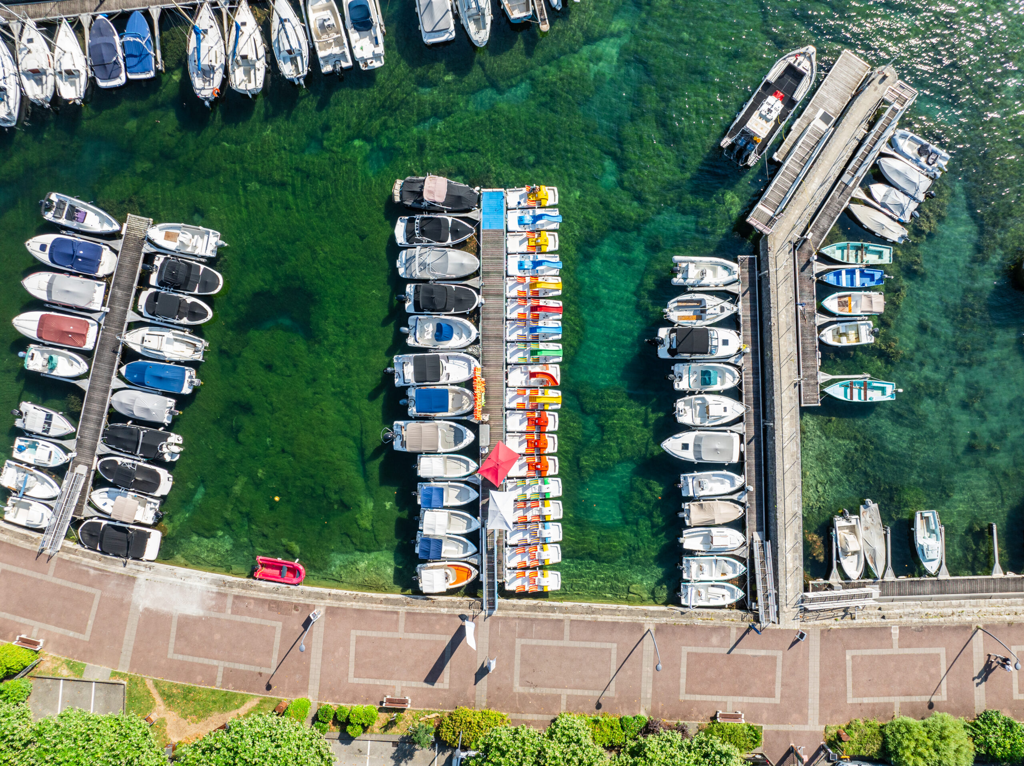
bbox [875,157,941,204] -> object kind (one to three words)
boat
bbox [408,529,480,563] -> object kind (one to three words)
boat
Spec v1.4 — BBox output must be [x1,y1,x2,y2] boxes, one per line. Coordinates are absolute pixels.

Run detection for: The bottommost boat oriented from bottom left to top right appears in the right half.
[717,43,816,176]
